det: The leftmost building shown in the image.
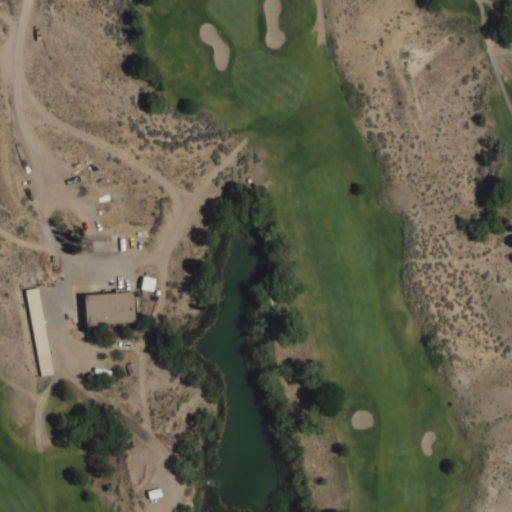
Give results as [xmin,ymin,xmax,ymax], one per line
[26,288,54,376]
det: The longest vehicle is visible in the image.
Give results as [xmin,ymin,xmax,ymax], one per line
[18,145,31,172]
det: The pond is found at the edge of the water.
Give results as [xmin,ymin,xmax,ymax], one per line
[194,235,278,511]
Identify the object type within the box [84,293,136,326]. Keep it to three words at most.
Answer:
building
